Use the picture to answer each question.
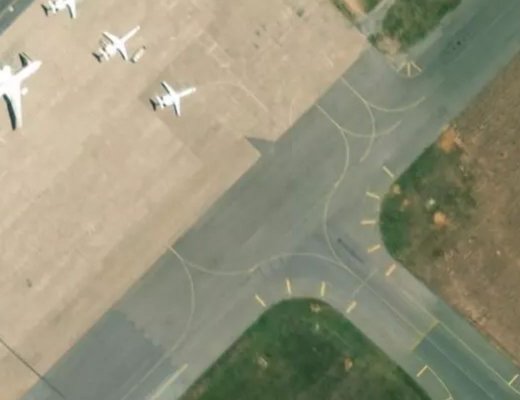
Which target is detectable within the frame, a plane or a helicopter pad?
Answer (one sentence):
There is a plane in the scene.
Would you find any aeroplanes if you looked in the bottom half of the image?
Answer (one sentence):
No, there is no aeroplane in the bottom half of the image.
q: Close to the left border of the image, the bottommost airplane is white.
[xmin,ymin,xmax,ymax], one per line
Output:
[0,61,41,128]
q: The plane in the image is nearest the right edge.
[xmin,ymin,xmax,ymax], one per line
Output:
[156,81,196,116]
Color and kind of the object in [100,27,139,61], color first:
white airplane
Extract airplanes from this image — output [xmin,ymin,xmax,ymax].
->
[0,61,41,128]
[100,27,139,61]
[47,0,75,18]
[156,81,196,116]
